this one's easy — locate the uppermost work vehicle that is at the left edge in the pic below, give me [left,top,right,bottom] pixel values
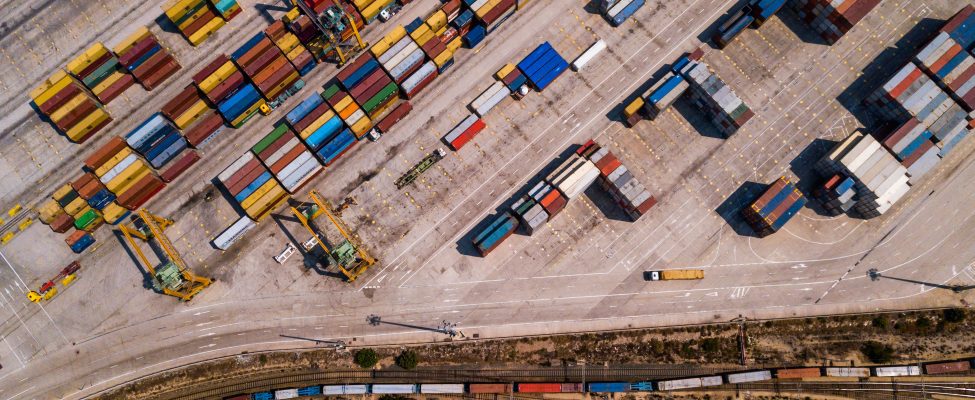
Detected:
[33,259,81,293]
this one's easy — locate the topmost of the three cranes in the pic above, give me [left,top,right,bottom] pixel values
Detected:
[290,0,368,67]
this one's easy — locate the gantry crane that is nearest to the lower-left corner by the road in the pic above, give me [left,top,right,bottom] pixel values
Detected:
[115,207,219,302]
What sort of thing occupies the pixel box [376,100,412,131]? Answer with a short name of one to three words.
shipping container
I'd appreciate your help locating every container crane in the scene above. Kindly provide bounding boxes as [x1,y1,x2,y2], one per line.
[115,207,219,302]
[290,190,382,286]
[290,0,368,67]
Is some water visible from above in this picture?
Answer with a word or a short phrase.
No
